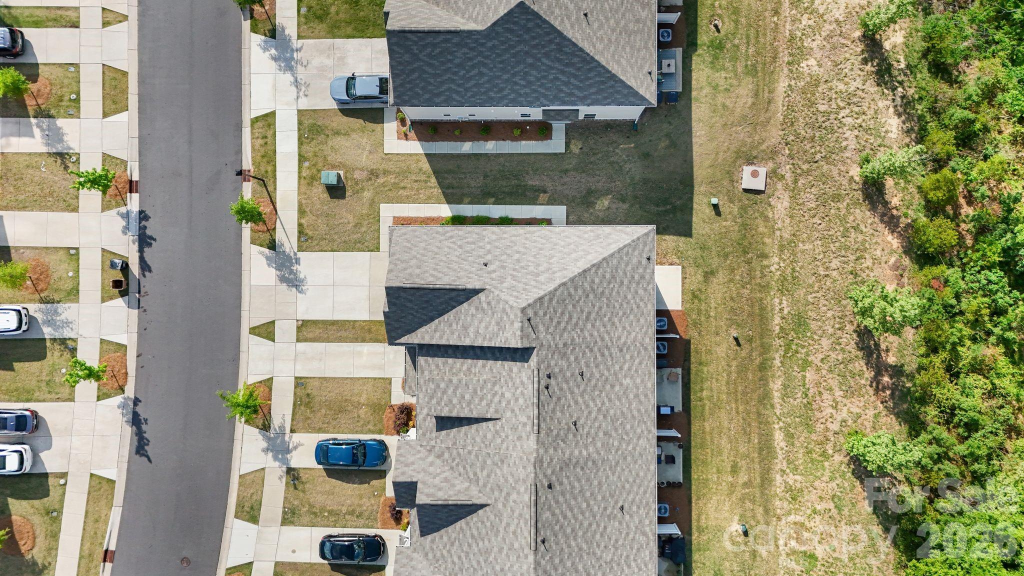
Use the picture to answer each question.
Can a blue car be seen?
Yes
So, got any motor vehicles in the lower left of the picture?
Yes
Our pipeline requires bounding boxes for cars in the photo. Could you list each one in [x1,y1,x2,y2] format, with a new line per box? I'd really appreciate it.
[315,438,389,471]
[329,71,386,104]
[0,406,43,434]
[0,443,37,473]
[0,306,34,334]
[319,531,387,566]
[0,28,28,59]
